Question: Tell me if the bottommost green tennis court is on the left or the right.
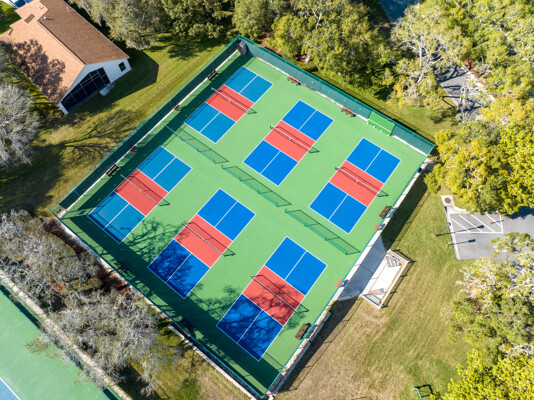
left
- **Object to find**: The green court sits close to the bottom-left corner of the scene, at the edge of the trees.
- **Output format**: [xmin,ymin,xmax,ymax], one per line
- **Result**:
[0,295,103,400]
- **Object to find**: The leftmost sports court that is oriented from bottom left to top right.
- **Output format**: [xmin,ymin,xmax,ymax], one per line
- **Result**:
[88,146,192,244]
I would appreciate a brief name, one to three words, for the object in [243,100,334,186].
sports court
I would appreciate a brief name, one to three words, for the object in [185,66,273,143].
sports court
